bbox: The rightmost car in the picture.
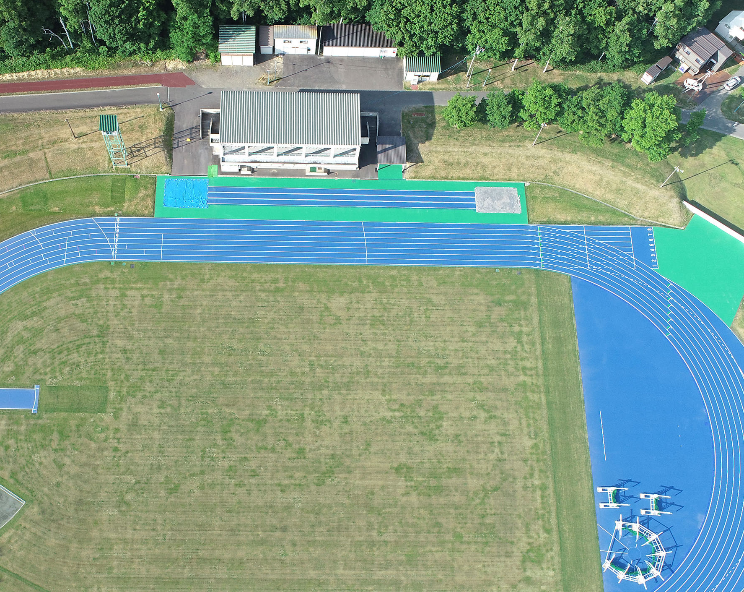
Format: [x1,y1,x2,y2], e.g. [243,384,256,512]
[726,76,743,91]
